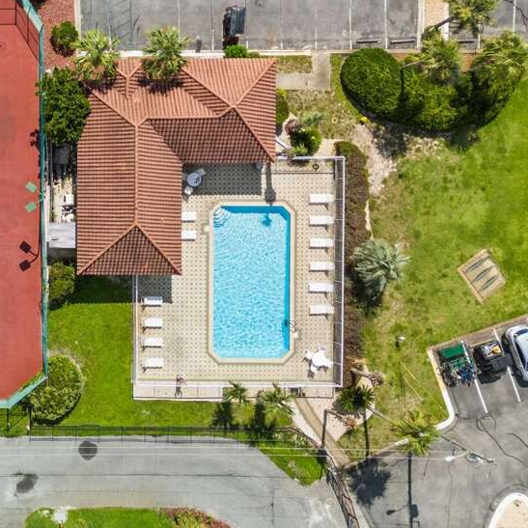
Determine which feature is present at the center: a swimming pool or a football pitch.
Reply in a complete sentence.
There is a swimming pool at the center.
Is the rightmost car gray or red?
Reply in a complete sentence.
In this view, the rightmost car is gray.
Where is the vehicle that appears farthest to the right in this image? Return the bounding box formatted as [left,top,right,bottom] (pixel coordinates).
[503,327,528,383]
